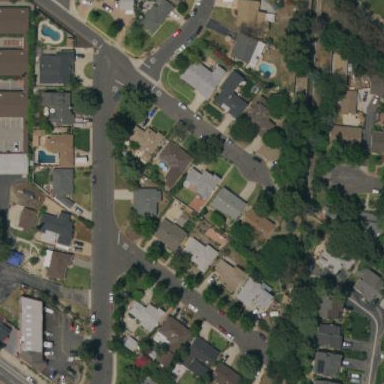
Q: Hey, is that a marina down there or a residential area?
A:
residential area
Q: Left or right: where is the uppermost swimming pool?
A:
left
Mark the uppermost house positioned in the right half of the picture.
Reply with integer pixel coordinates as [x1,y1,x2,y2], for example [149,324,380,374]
[238,0,276,30]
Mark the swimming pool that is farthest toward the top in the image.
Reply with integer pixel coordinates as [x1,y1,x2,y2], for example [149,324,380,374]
[38,21,64,44]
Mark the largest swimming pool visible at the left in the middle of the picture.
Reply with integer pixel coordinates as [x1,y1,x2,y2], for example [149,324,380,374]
[38,149,55,164]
